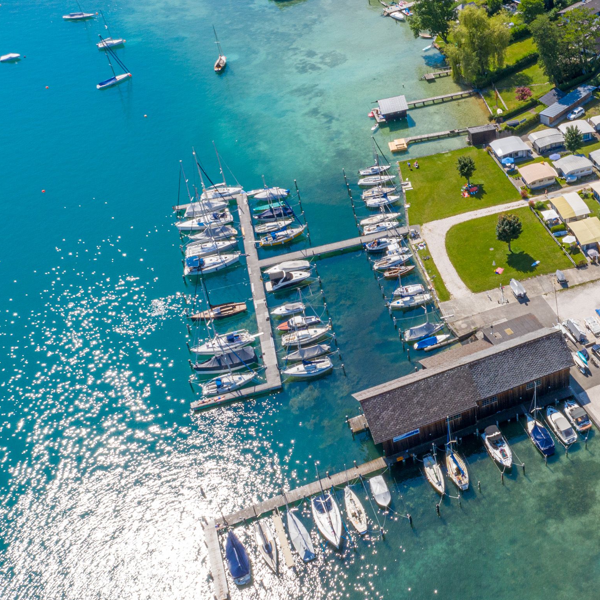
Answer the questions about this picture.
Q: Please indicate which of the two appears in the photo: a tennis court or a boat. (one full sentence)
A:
Looking from above, you can make out a boat.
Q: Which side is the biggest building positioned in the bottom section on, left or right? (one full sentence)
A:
It is on the right.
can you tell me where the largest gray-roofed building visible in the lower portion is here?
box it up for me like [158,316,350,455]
[353,323,575,457]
